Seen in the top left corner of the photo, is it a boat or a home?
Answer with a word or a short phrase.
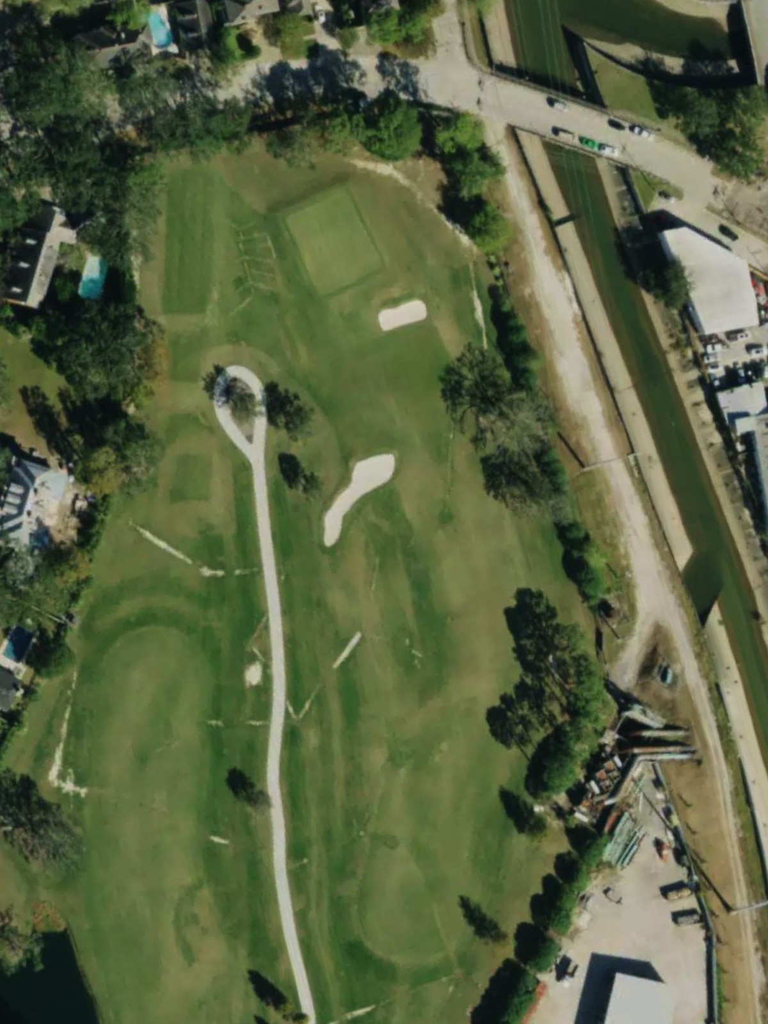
home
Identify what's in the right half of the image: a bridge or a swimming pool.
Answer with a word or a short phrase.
bridge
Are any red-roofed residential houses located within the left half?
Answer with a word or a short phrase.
No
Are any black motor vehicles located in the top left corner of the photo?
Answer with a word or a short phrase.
No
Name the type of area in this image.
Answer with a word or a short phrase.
golf course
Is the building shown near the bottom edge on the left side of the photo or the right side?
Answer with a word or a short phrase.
right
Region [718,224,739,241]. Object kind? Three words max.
car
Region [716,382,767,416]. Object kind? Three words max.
shed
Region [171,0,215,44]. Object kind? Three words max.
house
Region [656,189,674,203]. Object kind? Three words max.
car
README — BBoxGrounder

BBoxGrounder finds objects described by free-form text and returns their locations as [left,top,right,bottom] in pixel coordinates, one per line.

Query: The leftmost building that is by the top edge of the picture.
[68,29,153,71]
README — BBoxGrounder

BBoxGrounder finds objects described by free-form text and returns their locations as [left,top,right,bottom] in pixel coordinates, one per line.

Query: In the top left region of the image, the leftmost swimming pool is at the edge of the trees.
[79,255,107,300]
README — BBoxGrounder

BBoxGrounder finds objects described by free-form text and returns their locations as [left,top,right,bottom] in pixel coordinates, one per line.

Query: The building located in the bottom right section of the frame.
[595,973,670,1024]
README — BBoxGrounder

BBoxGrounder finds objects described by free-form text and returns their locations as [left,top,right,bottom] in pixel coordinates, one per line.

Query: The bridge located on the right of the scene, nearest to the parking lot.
[488,62,656,183]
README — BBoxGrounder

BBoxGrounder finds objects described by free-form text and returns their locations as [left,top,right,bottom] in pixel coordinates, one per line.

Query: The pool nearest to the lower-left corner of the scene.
[0,627,36,682]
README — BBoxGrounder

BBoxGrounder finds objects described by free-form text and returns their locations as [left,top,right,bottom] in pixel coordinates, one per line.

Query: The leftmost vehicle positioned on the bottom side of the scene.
[561,962,573,982]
